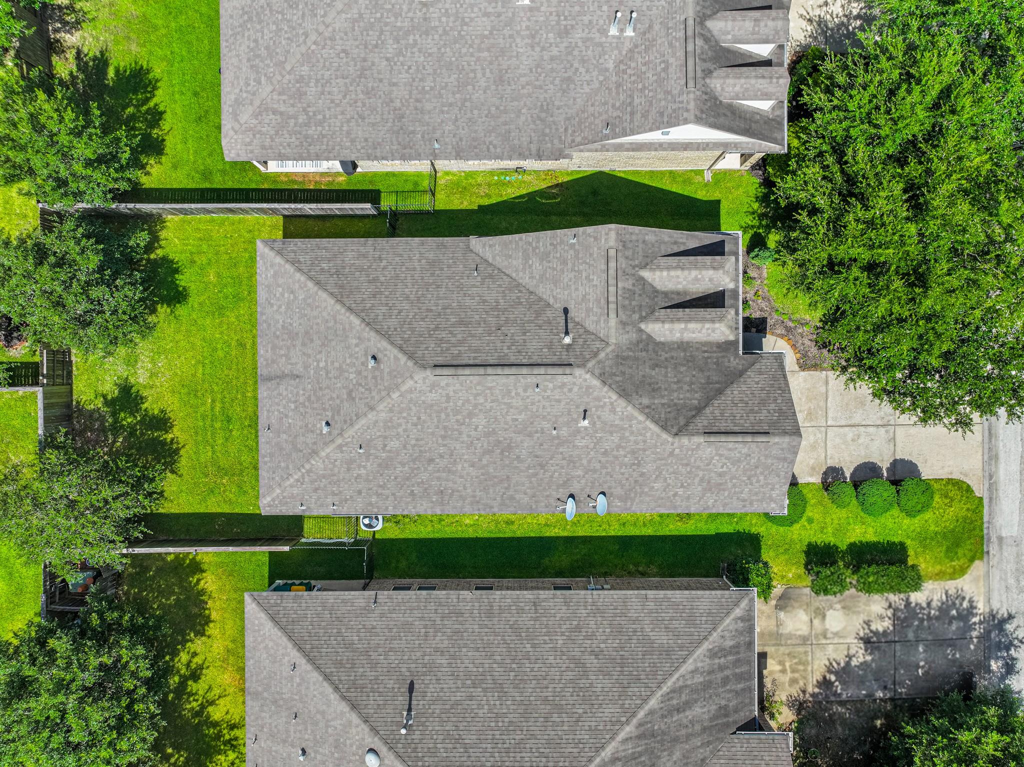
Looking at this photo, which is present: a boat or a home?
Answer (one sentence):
The one in the frame is a home.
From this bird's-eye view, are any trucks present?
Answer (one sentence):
No, the picture doesn't show any truck.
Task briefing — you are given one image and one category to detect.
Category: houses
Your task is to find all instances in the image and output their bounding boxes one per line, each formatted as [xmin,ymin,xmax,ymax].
[243,572,798,767]
[218,0,790,176]
[256,224,804,516]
